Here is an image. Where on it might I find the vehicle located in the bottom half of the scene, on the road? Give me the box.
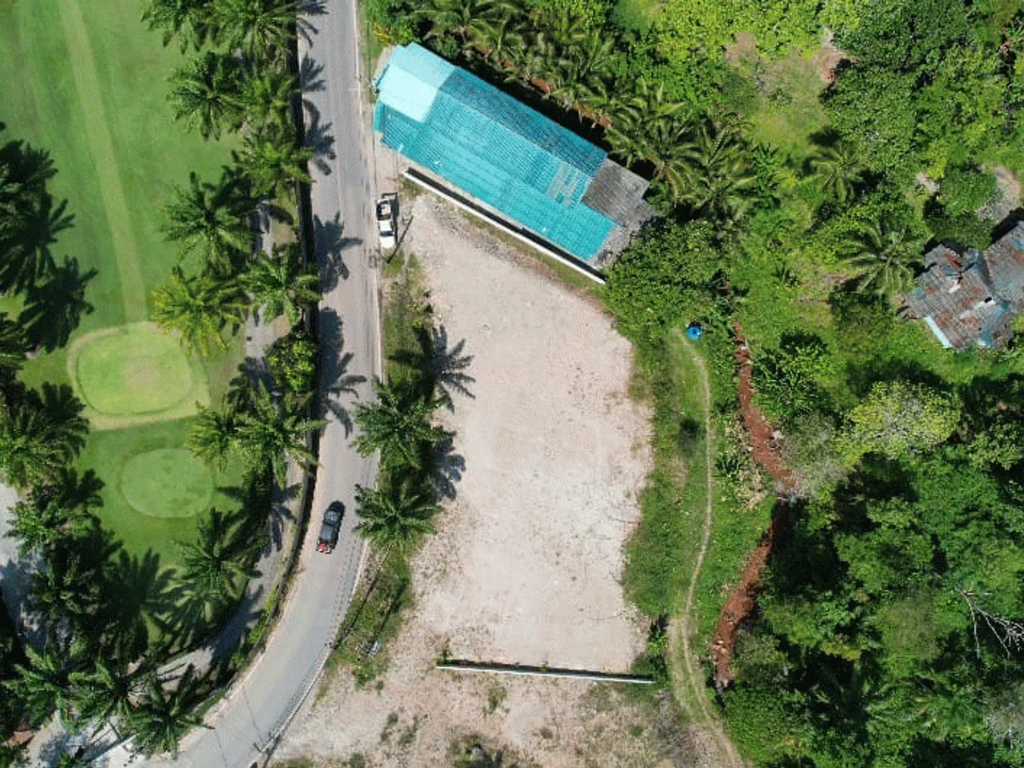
[314,498,346,552]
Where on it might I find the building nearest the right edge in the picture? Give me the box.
[898,218,1024,351]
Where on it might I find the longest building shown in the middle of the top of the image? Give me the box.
[375,38,610,263]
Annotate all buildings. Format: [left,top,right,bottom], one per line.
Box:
[898,218,1024,351]
[375,38,610,263]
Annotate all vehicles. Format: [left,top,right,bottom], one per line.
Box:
[314,498,346,552]
[376,198,397,251]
